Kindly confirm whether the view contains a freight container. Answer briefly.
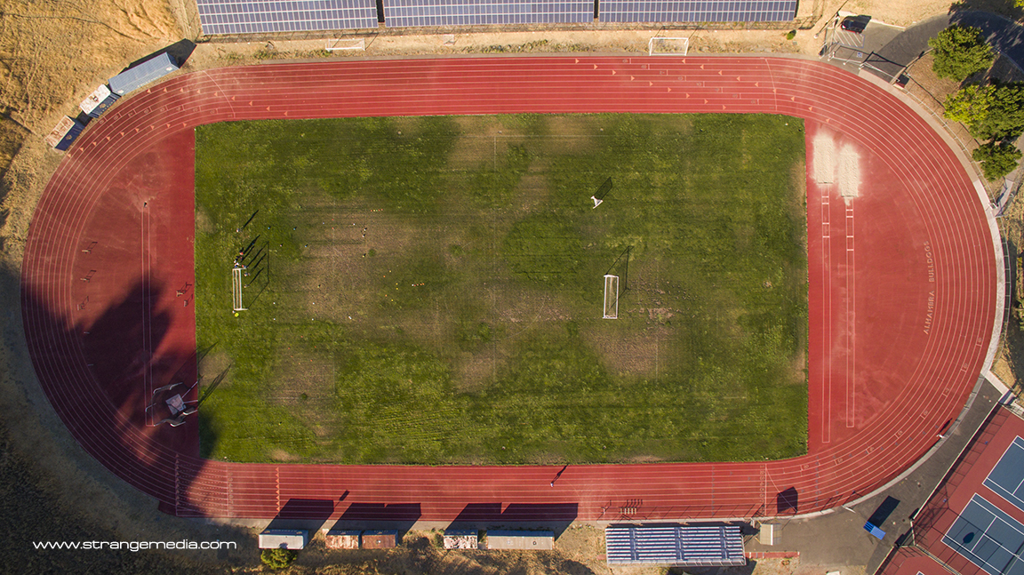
Yes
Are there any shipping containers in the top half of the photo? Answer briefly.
Yes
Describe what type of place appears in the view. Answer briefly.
sports ground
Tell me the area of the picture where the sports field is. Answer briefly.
center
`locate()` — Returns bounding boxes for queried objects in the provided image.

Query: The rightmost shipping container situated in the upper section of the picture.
[107,51,180,97]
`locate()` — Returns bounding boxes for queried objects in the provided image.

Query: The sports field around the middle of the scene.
[194,112,809,466]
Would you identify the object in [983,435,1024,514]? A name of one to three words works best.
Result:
tennis court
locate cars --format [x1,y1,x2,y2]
[842,18,869,33]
